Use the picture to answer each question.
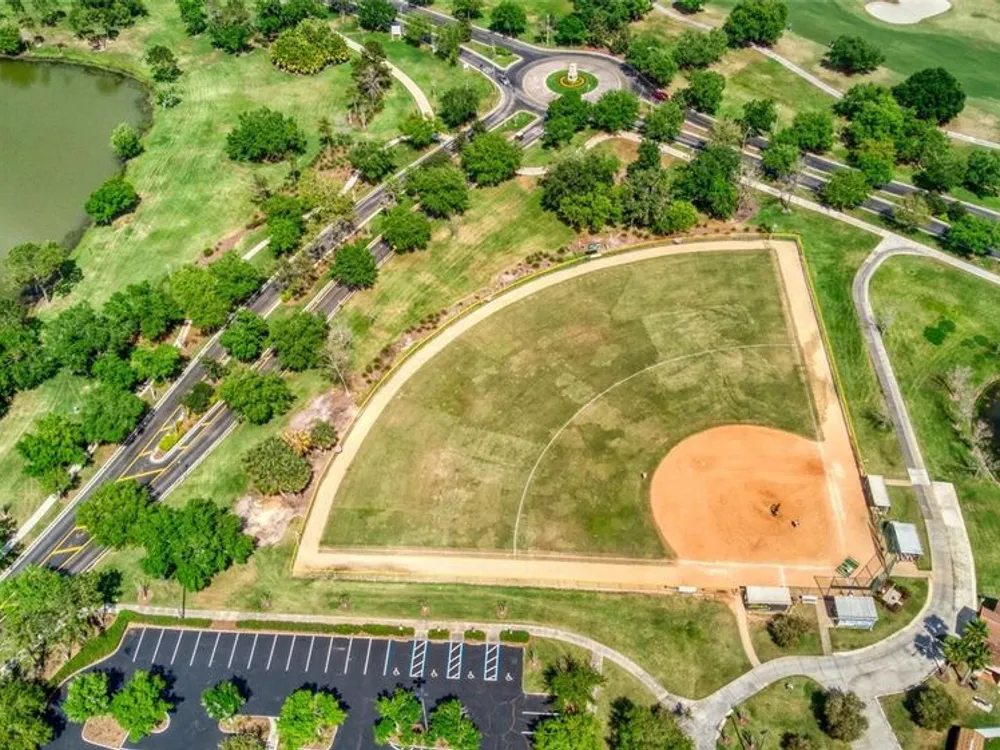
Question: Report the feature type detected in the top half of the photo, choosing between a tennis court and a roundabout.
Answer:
roundabout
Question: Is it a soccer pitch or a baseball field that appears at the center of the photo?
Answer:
baseball field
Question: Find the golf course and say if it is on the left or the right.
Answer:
right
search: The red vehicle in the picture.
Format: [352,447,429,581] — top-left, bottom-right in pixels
[650,86,670,100]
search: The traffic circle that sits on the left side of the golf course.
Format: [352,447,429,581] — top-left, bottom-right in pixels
[481,50,638,128]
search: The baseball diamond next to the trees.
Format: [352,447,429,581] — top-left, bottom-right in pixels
[291,239,891,602]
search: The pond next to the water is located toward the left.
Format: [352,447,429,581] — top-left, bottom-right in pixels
[0,60,152,307]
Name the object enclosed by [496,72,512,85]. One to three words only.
vehicle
